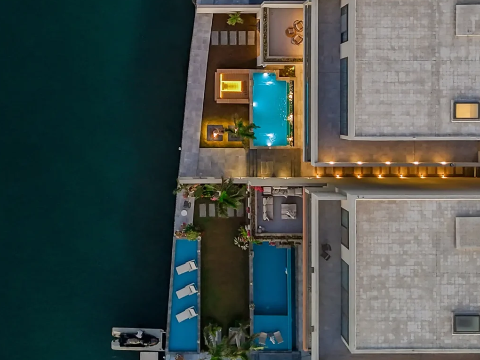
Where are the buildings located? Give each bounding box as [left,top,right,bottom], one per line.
[258,0,480,165]
[248,179,480,360]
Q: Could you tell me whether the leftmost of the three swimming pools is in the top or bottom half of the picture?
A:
bottom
